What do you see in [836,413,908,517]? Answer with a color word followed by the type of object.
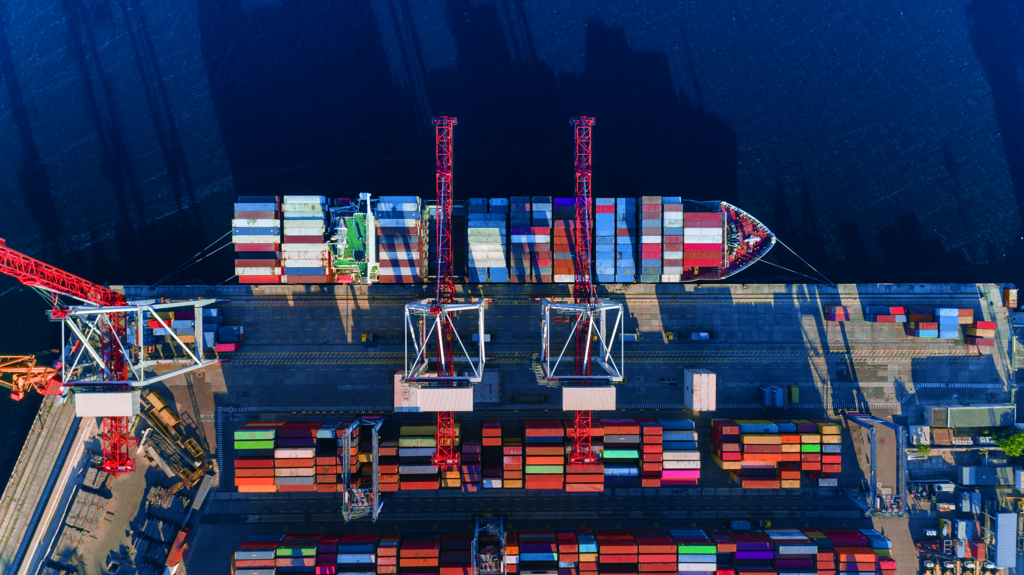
blue container crane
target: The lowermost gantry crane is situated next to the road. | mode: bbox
[468,514,510,575]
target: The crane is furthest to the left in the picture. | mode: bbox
[0,348,102,403]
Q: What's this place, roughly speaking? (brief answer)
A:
port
